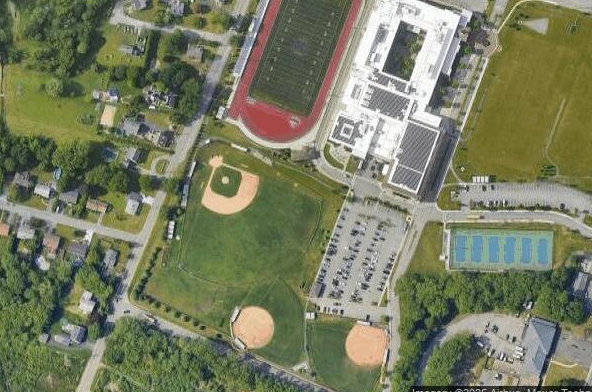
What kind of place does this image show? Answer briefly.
sports ground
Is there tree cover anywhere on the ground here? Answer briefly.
Yes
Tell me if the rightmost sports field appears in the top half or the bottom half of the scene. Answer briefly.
top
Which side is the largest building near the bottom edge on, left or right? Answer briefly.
right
